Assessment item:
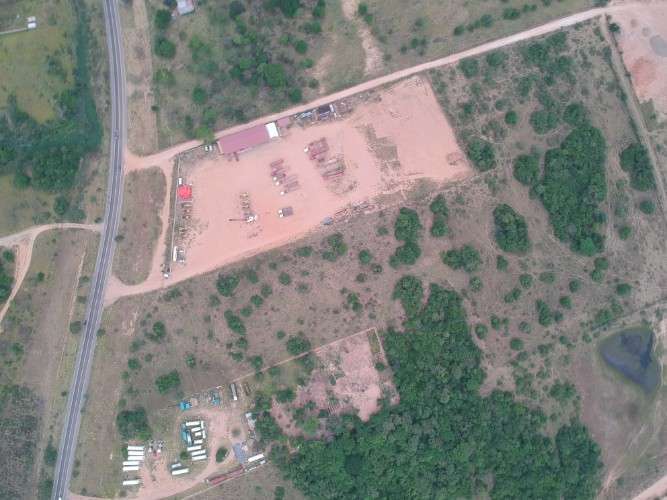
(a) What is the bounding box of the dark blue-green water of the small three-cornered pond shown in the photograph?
[600,329,660,392]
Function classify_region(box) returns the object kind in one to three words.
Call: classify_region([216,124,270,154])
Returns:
building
